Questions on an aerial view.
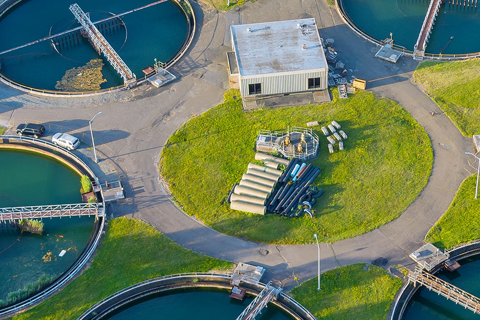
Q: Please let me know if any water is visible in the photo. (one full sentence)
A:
Yes, there is water in the image.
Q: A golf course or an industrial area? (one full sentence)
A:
This looks like an industrial area.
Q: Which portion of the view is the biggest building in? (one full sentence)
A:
The biggest building is located in the top region of the scene.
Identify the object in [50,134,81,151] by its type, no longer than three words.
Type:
car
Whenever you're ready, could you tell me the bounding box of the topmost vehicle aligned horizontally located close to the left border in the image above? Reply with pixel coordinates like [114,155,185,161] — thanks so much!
[15,121,47,136]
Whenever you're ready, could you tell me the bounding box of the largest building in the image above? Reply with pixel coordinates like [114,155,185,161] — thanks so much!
[225,18,329,96]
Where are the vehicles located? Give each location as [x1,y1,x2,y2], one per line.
[15,121,47,136]
[50,134,81,151]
